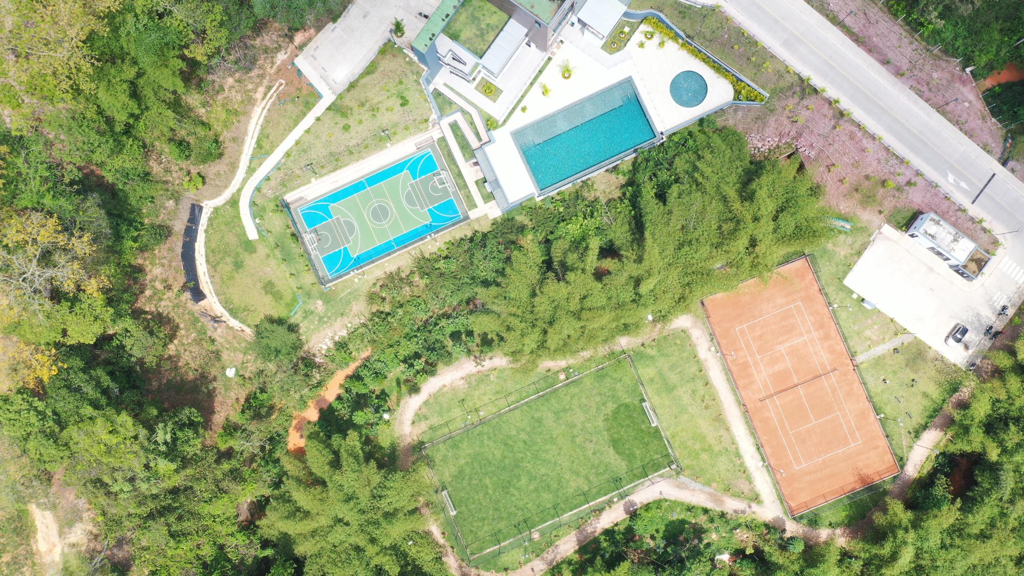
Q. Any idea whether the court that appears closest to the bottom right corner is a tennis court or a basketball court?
tennis court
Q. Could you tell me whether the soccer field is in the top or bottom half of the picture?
bottom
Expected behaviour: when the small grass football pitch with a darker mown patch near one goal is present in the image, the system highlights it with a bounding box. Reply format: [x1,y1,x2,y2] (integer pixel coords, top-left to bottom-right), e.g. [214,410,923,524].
[421,353,678,561]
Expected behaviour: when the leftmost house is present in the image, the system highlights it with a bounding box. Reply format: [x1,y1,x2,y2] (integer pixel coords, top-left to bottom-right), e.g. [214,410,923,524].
[412,0,575,89]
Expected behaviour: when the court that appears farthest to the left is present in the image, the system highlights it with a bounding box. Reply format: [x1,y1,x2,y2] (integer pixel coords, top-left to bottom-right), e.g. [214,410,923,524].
[291,142,469,285]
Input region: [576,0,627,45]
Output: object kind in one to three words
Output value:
building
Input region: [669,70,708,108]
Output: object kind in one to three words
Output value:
swimming pool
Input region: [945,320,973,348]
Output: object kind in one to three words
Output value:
car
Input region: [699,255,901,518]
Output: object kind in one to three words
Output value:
tennis court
